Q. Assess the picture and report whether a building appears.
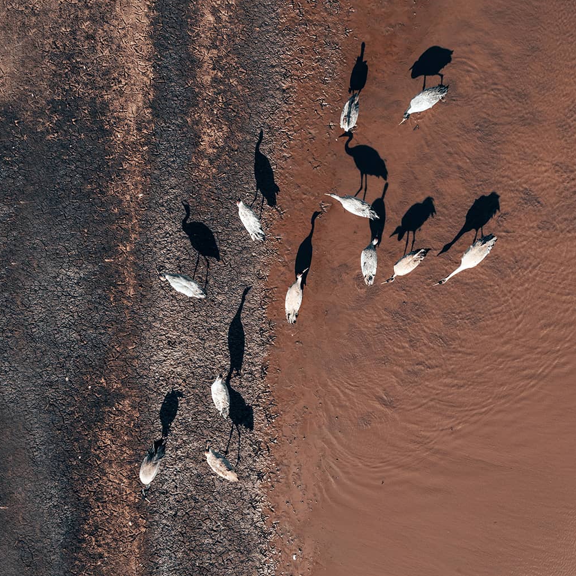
No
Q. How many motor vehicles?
zero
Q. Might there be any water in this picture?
Yes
